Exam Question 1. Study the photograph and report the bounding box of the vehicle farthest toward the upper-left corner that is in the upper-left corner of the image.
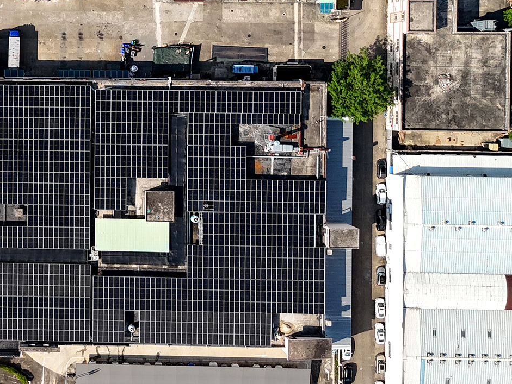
[8,34,20,73]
